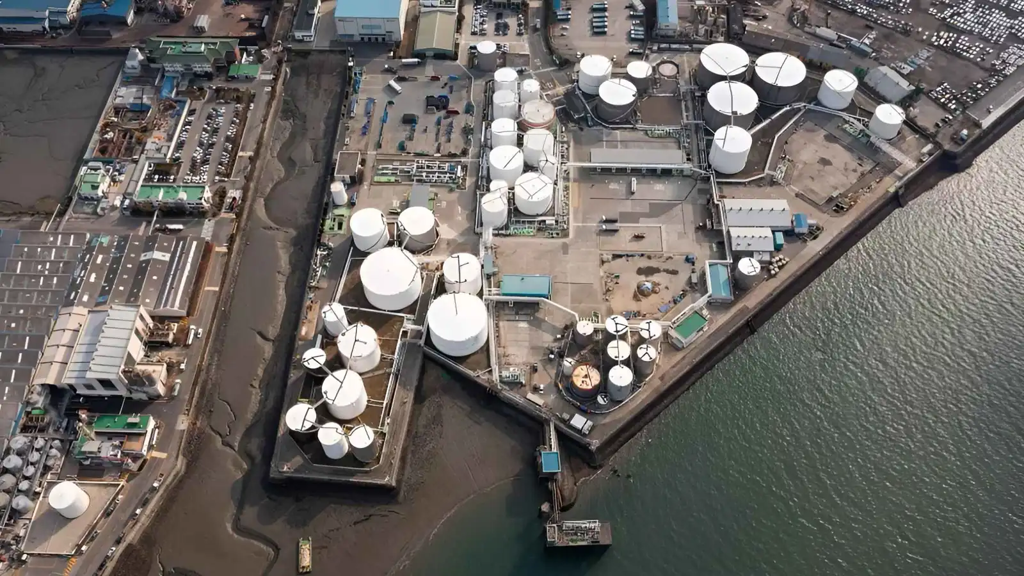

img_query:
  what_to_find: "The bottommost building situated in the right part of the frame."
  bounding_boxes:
[668,305,711,351]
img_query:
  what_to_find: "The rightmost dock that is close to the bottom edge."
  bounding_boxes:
[536,417,612,551]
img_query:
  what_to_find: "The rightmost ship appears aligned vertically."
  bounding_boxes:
[298,532,312,573]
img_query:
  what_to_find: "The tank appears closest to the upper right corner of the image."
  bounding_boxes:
[867,103,907,141]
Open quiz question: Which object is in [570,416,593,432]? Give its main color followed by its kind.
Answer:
white vehicle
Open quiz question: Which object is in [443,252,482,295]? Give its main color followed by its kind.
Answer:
white storage tank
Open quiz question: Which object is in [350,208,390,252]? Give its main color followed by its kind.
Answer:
white storage tank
